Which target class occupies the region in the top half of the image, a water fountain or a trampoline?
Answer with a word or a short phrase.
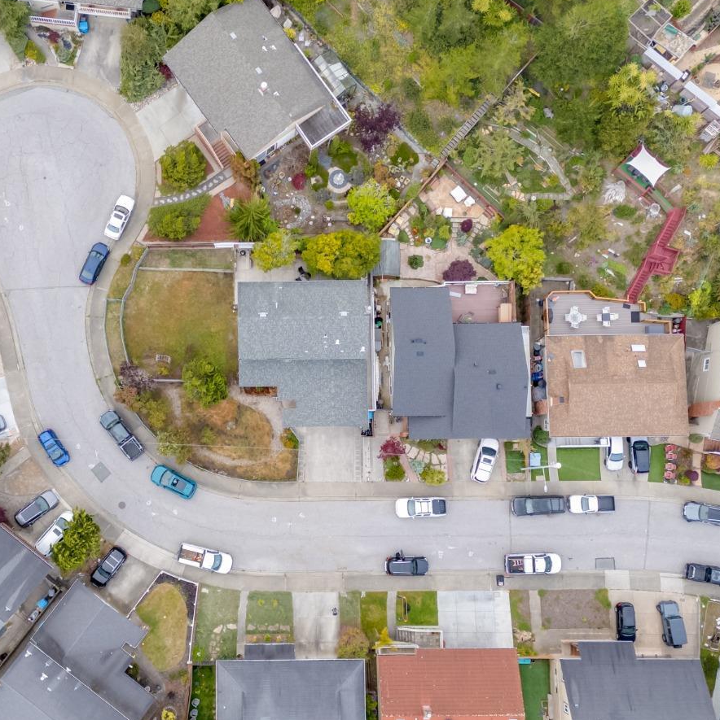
water fountain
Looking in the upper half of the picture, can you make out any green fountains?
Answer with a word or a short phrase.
No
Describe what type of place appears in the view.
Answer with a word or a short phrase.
residential area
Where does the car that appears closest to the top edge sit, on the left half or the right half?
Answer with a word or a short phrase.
left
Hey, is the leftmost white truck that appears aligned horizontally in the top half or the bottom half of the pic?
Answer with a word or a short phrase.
bottom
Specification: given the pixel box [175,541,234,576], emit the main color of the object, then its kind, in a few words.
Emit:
white truck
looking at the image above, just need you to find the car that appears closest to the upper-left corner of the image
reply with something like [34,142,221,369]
[101,193,138,243]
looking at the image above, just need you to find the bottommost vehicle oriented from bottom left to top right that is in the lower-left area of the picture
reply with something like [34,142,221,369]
[88,541,131,591]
